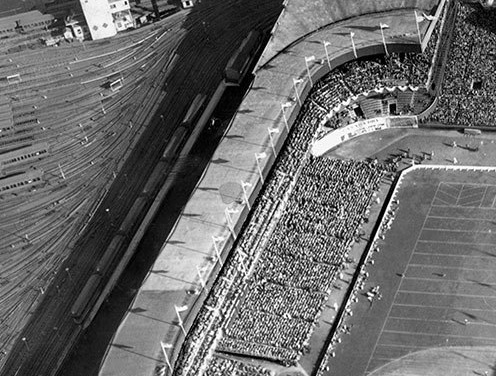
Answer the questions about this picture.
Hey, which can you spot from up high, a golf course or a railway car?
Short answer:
railway car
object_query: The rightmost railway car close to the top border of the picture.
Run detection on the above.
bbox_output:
[16,7,59,32]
